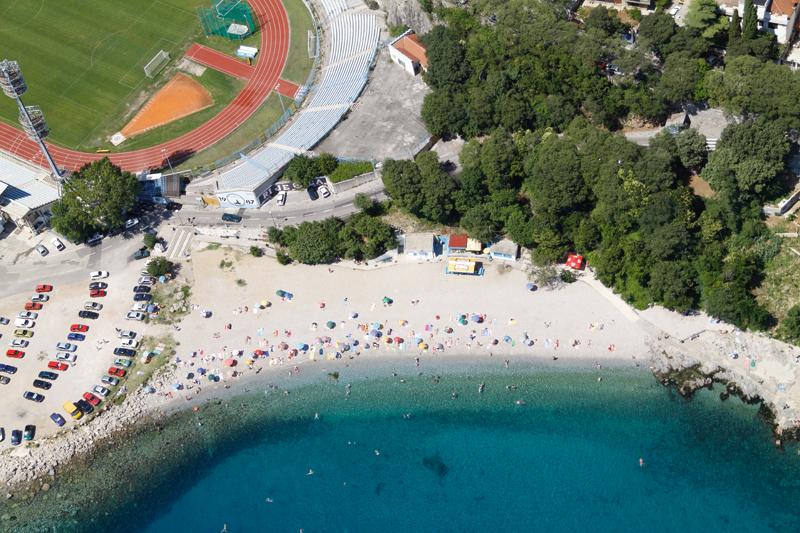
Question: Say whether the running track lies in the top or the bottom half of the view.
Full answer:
The running track sits in the top half of the picture.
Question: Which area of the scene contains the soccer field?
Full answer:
The soccer field is in the top left part of the image.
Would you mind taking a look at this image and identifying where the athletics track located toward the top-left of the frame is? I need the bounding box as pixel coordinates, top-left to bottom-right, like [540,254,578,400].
[0,0,291,175]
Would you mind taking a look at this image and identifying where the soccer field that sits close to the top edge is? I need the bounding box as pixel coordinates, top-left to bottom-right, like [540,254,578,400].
[0,0,262,152]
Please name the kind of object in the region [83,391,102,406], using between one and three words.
car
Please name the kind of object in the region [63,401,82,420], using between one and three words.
vehicle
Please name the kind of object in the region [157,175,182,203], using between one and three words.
shed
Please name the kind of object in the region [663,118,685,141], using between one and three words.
house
